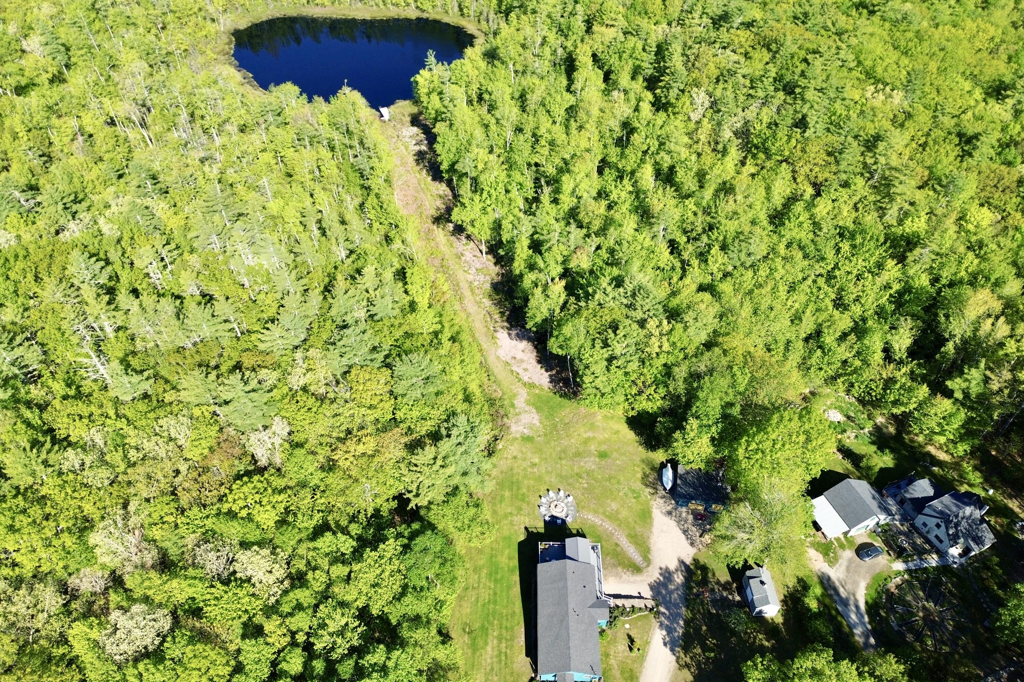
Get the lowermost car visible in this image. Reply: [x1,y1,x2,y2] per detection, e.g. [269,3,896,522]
[858,544,886,562]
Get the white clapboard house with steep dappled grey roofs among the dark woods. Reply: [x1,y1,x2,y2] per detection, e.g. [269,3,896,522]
[882,471,998,570]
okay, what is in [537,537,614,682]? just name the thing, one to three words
house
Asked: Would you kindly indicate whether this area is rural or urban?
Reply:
rural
